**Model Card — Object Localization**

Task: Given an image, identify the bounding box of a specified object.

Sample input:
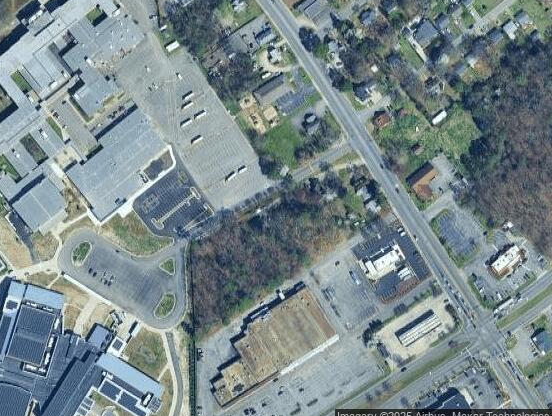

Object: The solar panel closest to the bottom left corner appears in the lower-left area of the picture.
[0,315,13,353]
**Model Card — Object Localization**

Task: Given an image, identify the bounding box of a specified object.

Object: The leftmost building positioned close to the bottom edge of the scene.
[0,280,165,416]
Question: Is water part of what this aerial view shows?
No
